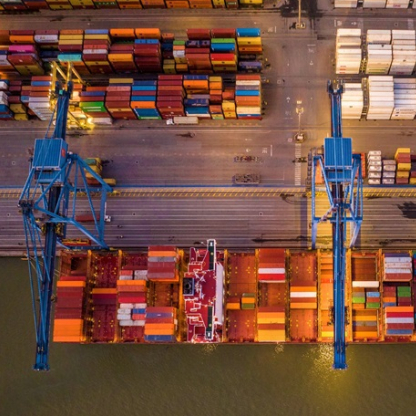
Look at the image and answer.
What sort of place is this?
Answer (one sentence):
It's a port.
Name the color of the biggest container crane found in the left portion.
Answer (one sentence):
From above, the biggest container crane found in the left portion appears blue.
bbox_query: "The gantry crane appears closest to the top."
[48,57,90,127]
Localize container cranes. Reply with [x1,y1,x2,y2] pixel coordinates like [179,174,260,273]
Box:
[300,81,364,370]
[48,57,90,127]
[13,79,123,372]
